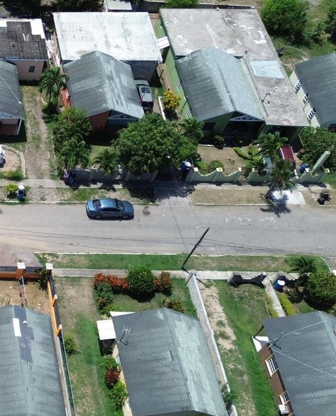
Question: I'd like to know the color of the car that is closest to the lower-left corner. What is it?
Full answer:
The car that is closest to the lower-left corner is blue.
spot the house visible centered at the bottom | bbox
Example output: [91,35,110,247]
[90,308,227,416]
